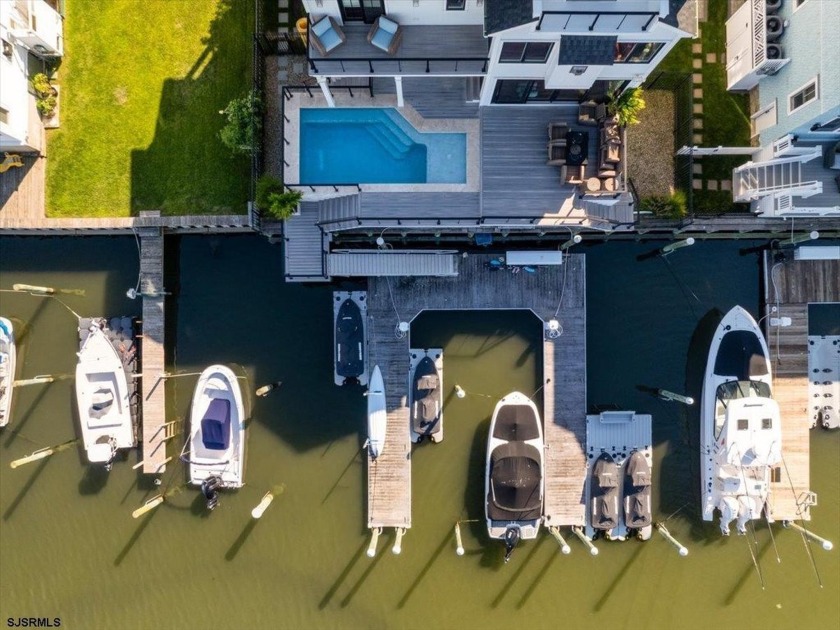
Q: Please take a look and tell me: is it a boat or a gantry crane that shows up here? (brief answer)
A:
boat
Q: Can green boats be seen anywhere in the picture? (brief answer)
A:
No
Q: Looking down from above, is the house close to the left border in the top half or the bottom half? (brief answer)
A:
top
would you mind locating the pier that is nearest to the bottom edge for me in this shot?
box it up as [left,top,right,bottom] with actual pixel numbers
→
[585,415,651,539]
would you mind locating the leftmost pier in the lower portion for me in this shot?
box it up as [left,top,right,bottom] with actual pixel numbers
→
[78,317,143,452]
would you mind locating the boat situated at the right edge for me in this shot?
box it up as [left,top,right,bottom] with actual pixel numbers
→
[692,305,817,590]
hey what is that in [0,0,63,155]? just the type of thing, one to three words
house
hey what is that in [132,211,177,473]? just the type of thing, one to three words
pier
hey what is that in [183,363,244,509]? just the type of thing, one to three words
boat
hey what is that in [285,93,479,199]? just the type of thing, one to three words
swimming pool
